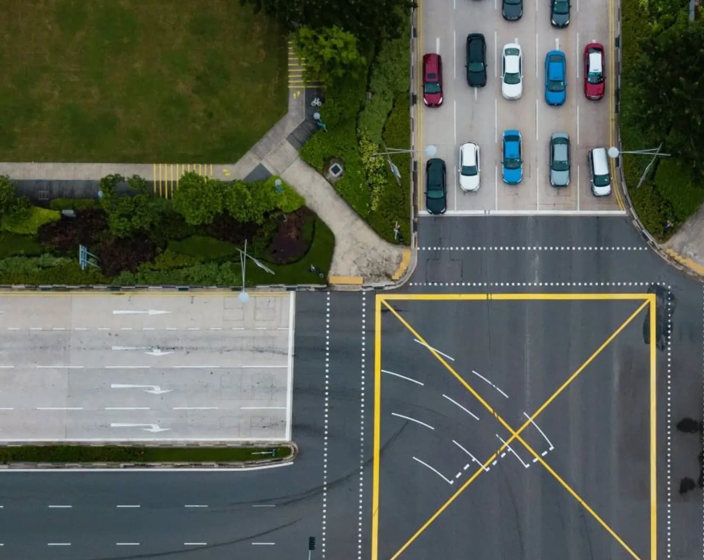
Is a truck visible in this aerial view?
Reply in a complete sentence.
No, the picture doesn't show any truck.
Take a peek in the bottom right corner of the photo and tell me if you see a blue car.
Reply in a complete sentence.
No, there's no blue car to be seen in the bottom right corner of the photo.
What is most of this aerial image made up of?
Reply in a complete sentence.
Most of the picture is covered by paved ground.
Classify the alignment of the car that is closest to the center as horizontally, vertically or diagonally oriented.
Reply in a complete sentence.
From this overhead view, the car that is closest to the center appears to run vertically.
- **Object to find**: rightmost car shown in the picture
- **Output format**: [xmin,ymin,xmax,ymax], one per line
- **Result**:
[582,41,607,98]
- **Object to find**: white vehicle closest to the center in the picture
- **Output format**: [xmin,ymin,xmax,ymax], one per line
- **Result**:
[457,138,481,190]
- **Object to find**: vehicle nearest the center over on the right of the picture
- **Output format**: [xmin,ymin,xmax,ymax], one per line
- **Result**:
[422,156,449,212]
